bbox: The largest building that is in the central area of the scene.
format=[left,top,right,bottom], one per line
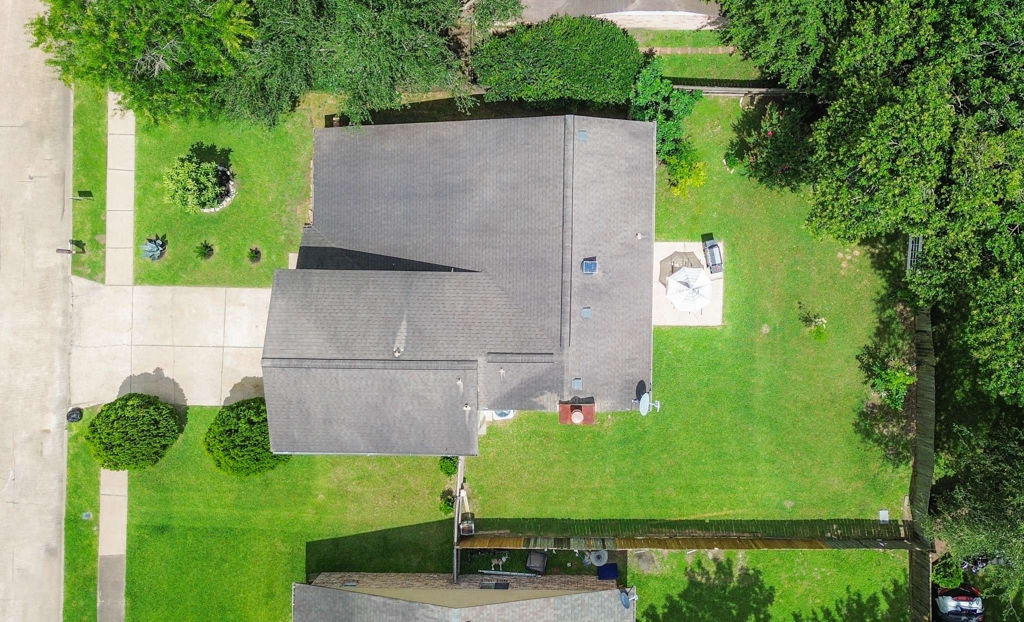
[261,112,658,458]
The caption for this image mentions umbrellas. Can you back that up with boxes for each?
[666,266,712,312]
